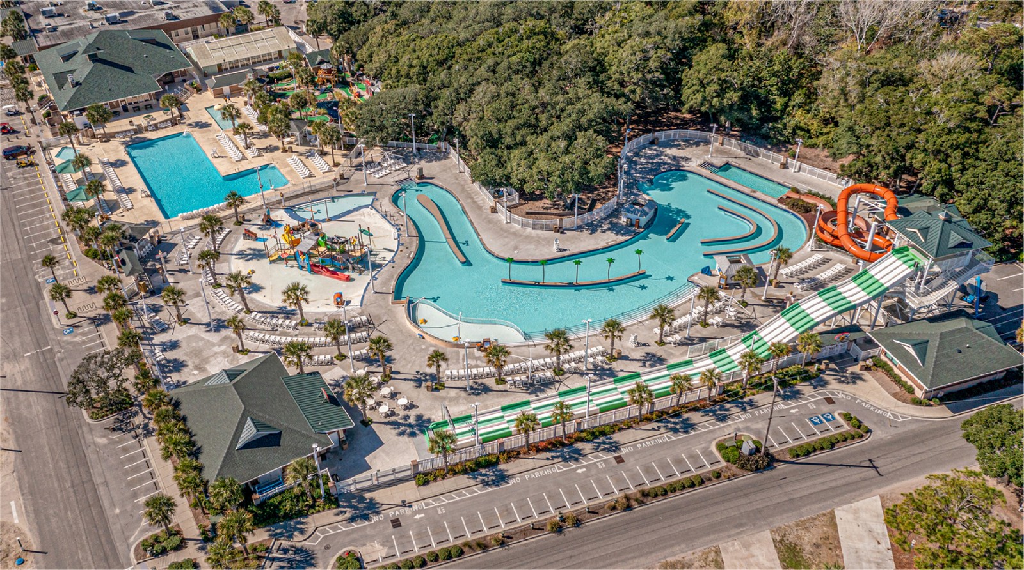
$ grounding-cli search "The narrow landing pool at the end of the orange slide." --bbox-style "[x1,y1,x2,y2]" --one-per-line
[713,162,794,200]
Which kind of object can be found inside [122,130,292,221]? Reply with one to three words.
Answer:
swimming pool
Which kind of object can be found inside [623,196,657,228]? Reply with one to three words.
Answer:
shed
